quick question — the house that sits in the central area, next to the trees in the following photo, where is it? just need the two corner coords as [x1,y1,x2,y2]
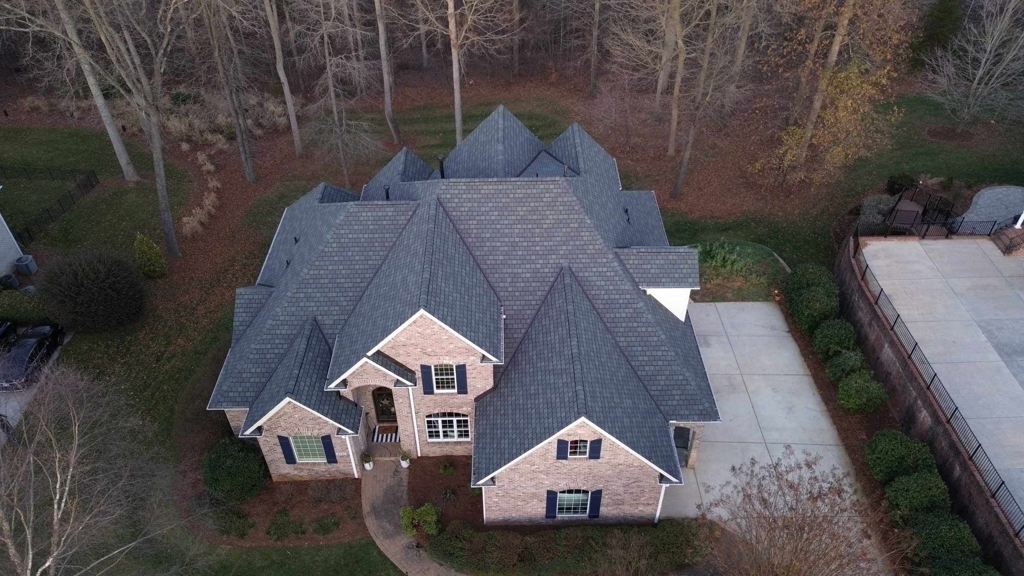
[204,105,725,529]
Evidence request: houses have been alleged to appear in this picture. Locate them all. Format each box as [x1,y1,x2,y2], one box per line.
[204,105,725,529]
[0,216,22,275]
